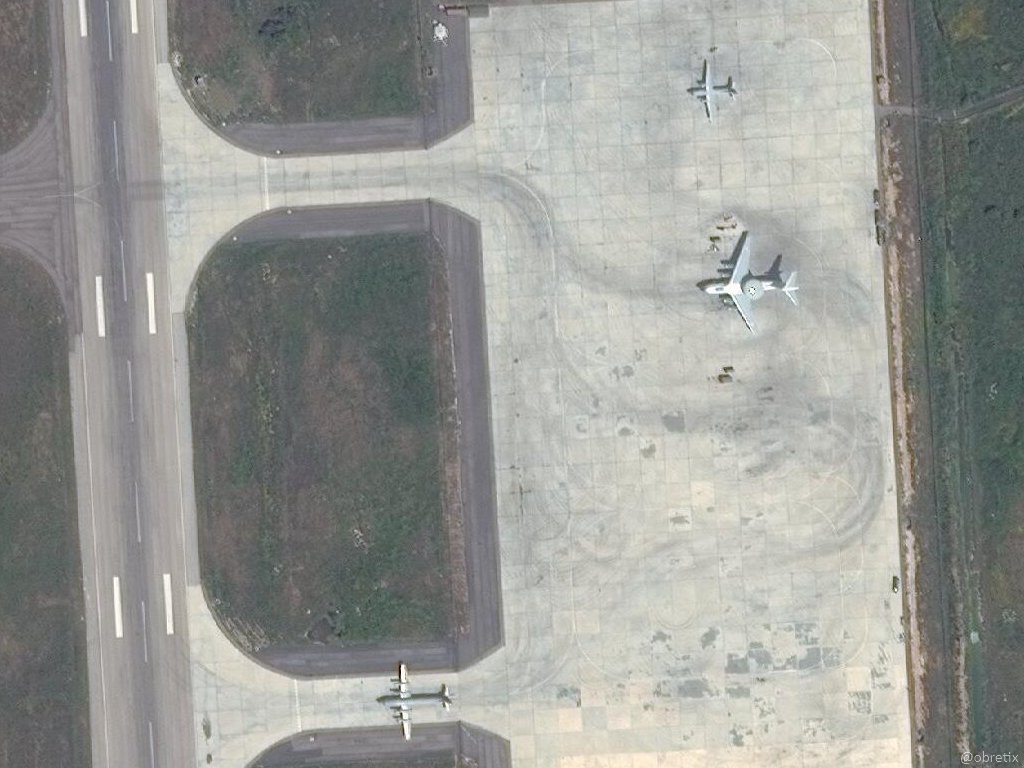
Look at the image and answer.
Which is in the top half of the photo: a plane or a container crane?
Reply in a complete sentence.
What appears in the top half of the photo is a plane.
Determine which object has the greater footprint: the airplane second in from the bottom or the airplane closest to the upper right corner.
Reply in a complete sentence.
Of the two, the airplane second in from the bottom is larger and the airplane closest to the upper right corner is the smaller one.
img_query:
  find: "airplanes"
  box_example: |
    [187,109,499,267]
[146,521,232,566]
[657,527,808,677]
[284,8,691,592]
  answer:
[703,237,800,335]
[380,665,458,739]
[691,63,739,121]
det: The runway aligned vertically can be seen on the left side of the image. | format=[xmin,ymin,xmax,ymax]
[63,0,198,768]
